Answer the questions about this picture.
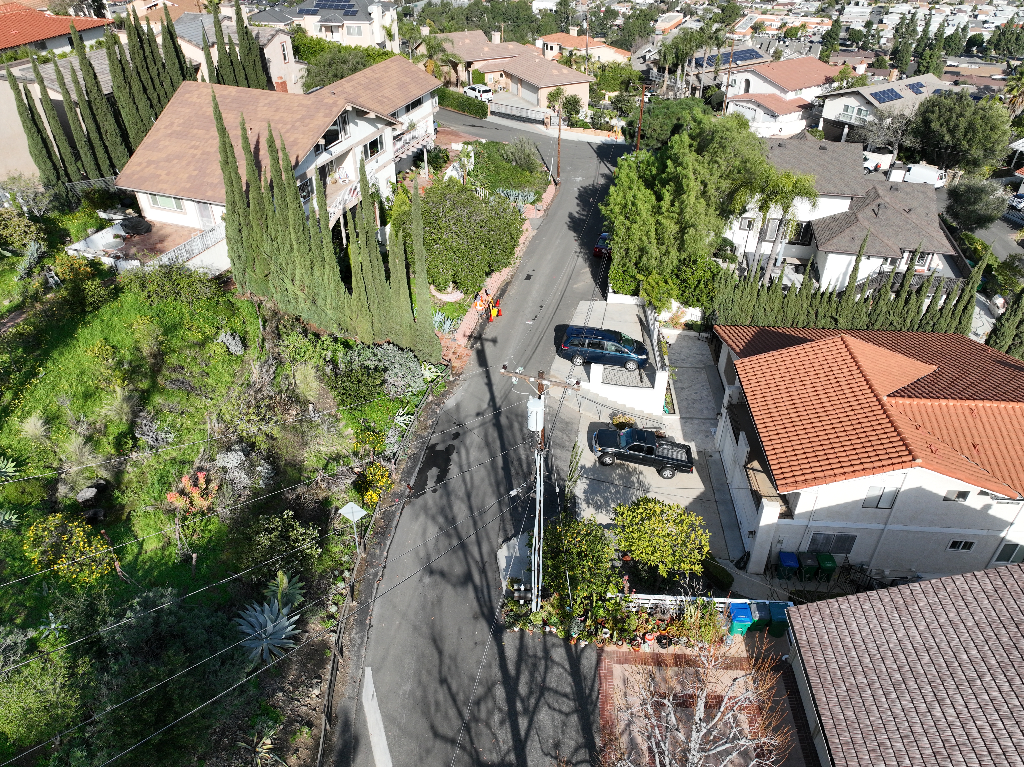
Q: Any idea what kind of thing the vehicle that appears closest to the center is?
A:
car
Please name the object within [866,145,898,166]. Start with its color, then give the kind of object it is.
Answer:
white truck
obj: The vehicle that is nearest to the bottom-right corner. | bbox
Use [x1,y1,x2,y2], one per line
[587,425,699,478]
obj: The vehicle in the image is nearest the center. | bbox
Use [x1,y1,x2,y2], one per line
[560,324,652,372]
